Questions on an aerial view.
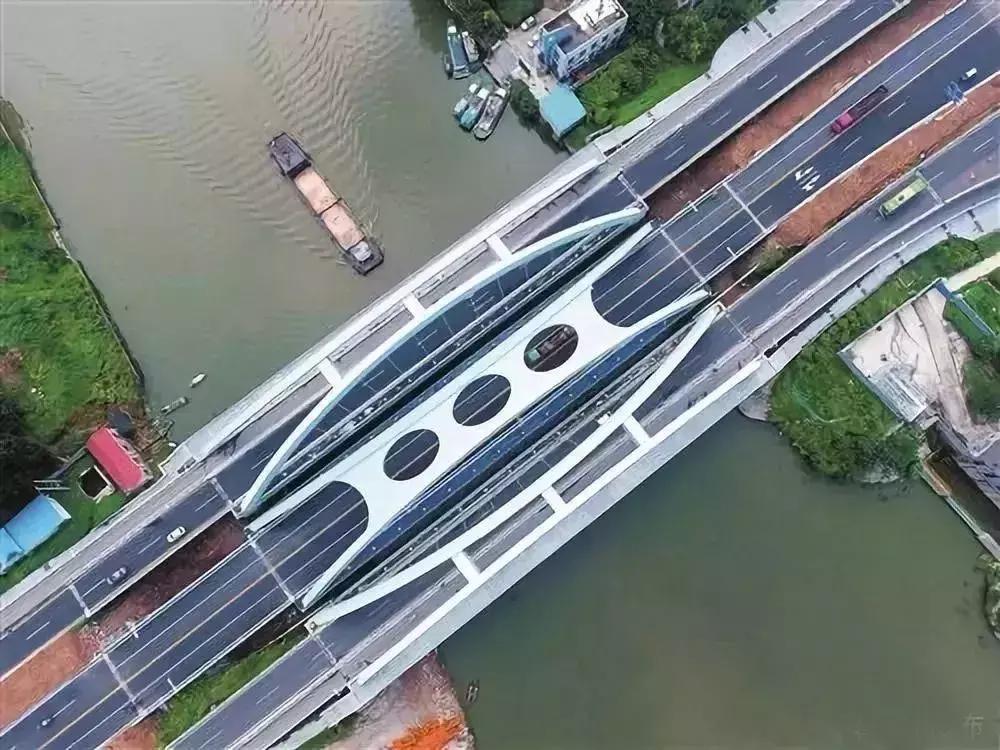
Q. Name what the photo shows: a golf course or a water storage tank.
water storage tank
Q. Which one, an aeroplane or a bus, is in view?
bus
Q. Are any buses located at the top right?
Yes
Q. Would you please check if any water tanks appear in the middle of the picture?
No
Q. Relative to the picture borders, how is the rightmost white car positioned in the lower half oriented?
on a diagonal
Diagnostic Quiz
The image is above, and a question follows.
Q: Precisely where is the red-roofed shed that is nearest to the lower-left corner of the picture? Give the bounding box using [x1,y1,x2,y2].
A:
[87,426,157,492]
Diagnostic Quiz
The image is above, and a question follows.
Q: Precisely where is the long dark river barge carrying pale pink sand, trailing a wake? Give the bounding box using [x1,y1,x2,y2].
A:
[266,127,378,275]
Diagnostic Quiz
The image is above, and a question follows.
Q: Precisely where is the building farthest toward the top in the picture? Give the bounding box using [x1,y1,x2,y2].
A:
[542,0,628,78]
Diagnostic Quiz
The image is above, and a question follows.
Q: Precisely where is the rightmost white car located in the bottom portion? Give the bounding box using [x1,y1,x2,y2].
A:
[164,523,188,544]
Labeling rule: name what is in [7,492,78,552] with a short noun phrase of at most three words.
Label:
shed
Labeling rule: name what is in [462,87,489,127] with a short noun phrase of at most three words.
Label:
boat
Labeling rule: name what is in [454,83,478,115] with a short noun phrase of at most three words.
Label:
boat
